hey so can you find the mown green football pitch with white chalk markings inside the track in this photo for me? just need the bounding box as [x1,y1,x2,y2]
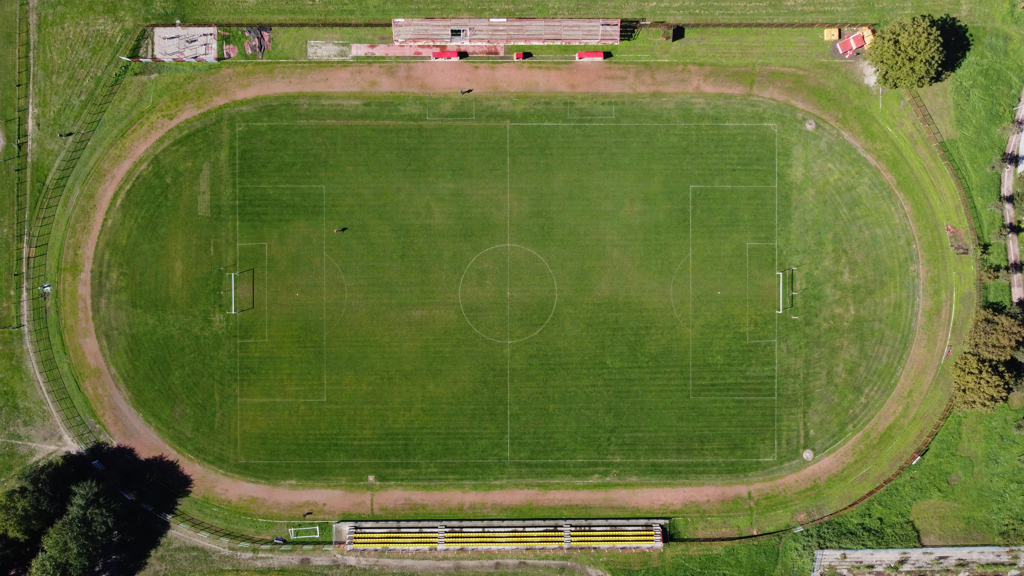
[92,99,918,483]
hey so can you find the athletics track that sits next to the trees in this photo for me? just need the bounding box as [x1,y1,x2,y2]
[54,60,973,522]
